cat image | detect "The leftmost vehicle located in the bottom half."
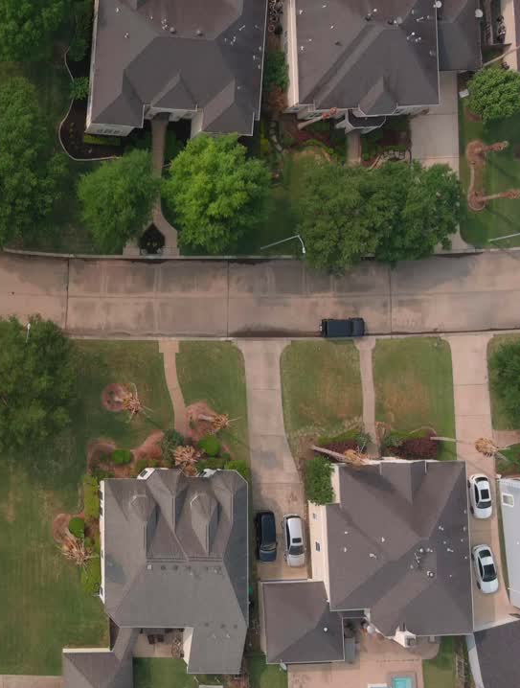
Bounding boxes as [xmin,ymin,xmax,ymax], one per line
[252,513,278,561]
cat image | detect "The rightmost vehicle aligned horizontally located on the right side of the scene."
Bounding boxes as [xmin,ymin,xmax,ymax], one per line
[319,318,364,338]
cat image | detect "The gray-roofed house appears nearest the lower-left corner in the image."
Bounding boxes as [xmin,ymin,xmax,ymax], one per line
[61,464,249,688]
